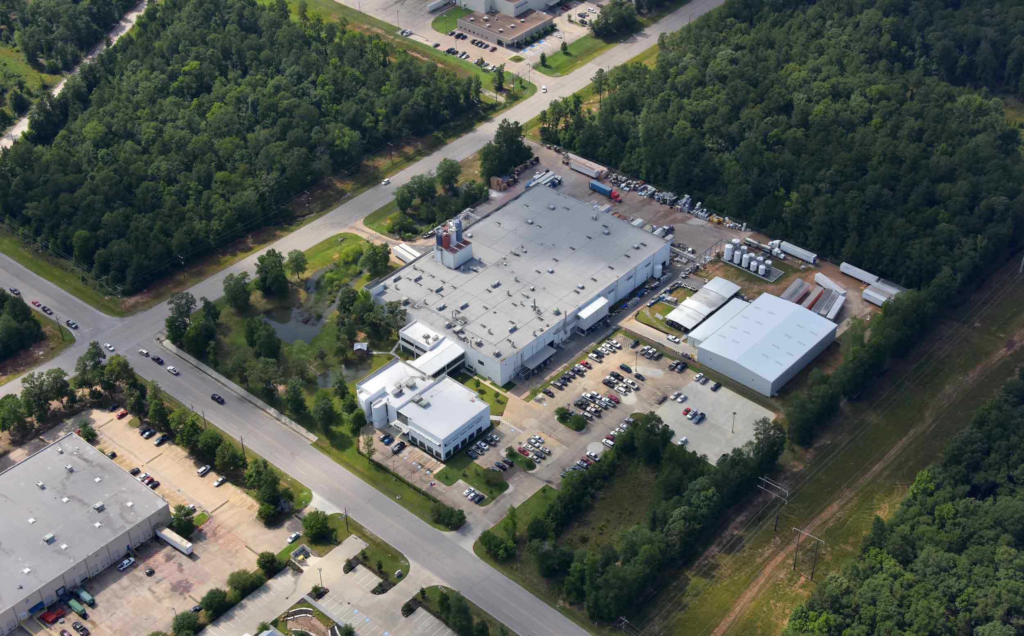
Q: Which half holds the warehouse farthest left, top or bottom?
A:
bottom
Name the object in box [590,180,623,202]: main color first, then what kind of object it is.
blue truck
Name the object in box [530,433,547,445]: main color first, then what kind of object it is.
white vehicle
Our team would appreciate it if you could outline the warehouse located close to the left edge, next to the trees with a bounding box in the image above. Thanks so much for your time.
[0,432,171,636]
